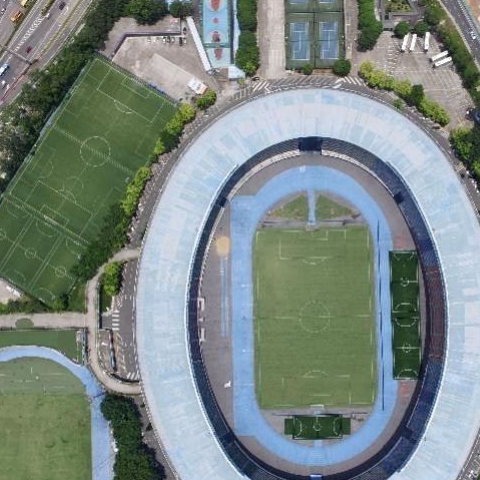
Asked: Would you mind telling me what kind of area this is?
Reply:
sports ground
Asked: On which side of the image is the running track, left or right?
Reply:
right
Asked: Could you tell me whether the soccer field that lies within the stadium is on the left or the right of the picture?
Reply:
right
